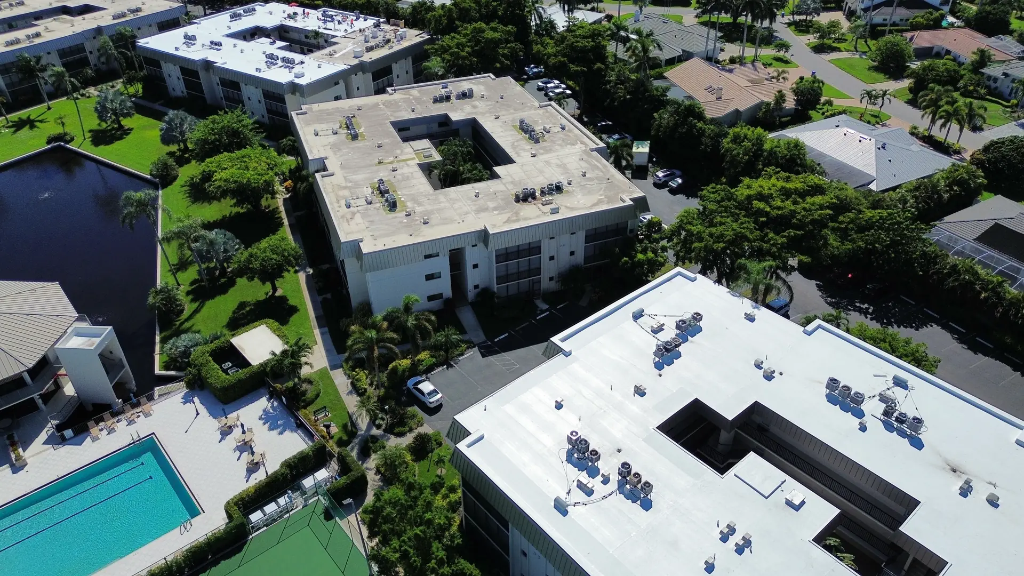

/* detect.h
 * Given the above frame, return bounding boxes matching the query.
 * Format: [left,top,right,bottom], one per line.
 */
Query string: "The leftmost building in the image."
[0,280,91,431]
